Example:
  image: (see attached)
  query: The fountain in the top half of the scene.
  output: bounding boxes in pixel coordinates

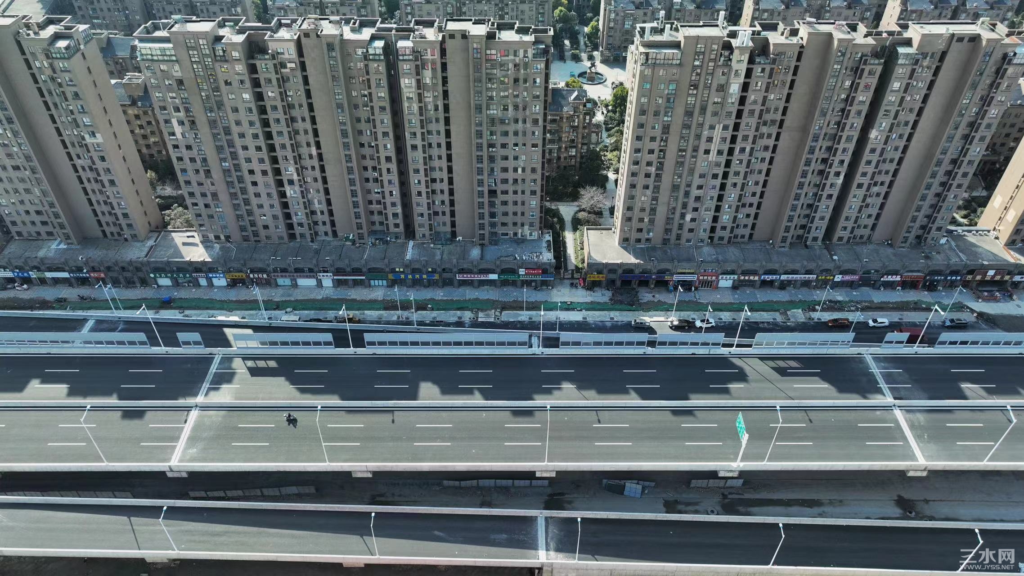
[577,72,607,86]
